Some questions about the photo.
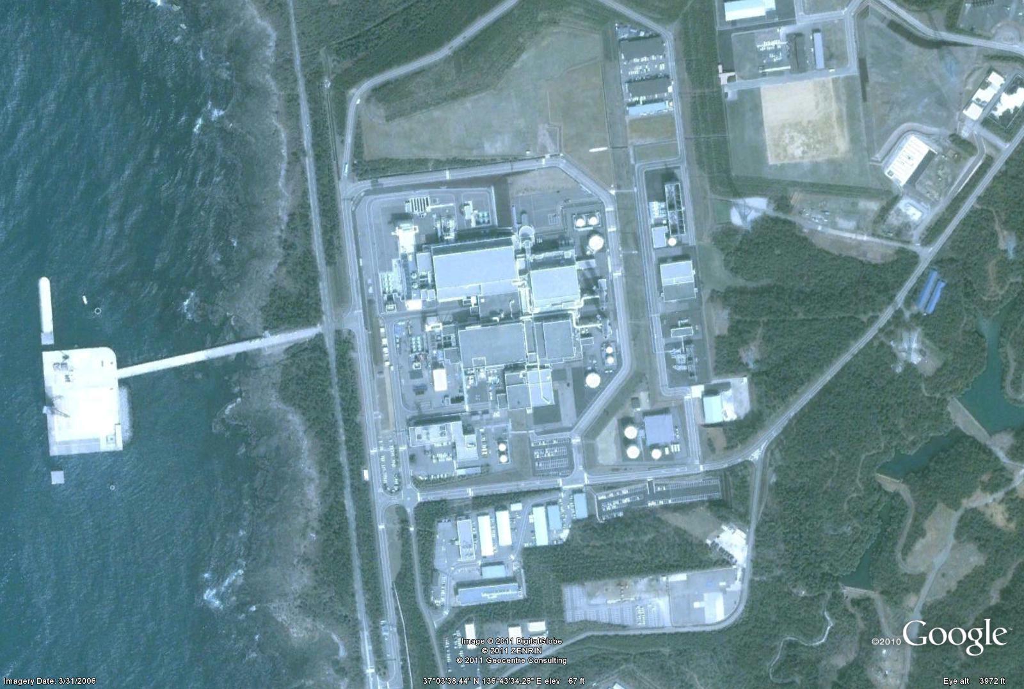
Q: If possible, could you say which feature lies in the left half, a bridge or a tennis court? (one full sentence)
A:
You can see a bridge in the left half.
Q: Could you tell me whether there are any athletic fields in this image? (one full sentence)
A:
Yes, the frame does contain an athletic field.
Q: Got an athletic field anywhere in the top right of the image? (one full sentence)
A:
Yes, looking in the top right of the image, one can make out an athletic field.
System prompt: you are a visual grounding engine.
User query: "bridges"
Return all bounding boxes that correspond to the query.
[117,325,320,379]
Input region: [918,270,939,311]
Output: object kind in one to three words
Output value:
shed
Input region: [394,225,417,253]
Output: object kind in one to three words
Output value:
house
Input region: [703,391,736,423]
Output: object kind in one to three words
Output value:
building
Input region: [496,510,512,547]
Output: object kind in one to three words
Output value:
building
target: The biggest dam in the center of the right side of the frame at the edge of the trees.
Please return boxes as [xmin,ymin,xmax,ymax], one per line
[950,395,990,439]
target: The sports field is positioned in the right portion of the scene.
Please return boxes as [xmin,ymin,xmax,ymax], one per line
[761,79,848,166]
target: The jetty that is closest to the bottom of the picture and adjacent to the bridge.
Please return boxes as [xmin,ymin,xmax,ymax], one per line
[42,347,123,456]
